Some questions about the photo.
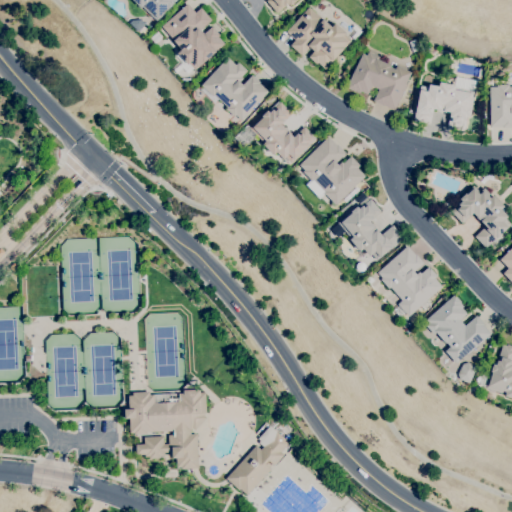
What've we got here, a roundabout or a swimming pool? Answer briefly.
swimming pool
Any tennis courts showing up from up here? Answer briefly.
Yes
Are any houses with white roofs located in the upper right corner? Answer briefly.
Yes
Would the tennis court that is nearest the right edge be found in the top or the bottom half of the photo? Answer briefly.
bottom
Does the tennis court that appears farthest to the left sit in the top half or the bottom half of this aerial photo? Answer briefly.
bottom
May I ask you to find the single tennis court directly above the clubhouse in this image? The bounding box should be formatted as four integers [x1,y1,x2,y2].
[146,313,187,390]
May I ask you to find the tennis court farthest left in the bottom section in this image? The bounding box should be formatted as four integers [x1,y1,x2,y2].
[0,308,24,381]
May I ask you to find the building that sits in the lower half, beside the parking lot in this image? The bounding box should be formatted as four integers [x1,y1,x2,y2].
[125,390,207,470]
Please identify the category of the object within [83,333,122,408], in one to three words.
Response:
tennis court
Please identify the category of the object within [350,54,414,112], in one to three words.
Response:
house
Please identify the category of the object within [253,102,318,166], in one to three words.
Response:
house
